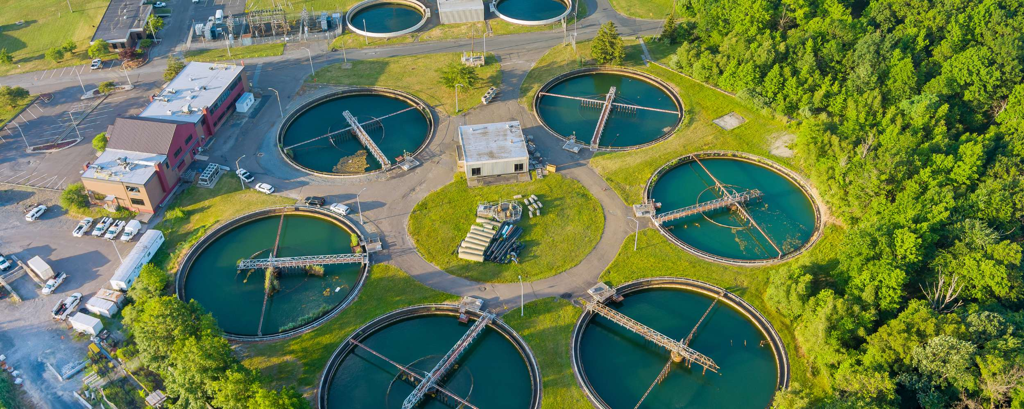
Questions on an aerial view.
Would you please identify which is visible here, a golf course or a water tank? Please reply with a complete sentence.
The one in the frame is a water tank.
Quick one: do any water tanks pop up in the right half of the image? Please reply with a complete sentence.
Yes, a water tank is visible in the right half of the image.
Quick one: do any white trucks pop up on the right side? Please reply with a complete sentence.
No, on the right side there is no white truck.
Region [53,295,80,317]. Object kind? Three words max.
truck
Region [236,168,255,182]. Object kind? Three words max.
vehicle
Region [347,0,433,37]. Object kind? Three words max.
water tank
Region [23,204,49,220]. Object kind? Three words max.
car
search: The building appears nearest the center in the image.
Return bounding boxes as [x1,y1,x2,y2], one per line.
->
[454,121,532,186]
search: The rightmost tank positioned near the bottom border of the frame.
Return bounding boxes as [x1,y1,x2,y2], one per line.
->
[574,276,790,409]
